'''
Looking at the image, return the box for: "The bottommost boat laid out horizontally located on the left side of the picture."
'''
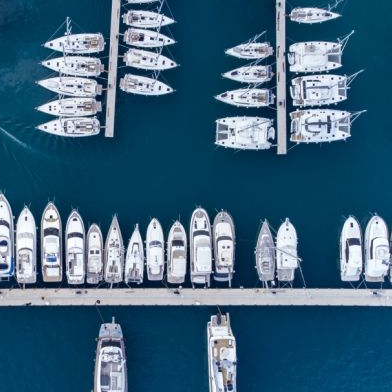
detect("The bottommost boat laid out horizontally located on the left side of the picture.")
[34,114,106,139]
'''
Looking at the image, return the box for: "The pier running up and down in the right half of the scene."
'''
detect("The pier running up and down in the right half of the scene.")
[274,0,287,155]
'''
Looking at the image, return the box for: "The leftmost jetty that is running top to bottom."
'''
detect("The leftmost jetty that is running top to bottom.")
[105,0,119,138]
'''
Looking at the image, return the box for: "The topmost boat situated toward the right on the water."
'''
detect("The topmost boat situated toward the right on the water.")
[282,0,351,26]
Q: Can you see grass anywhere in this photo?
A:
No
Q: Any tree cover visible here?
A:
No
